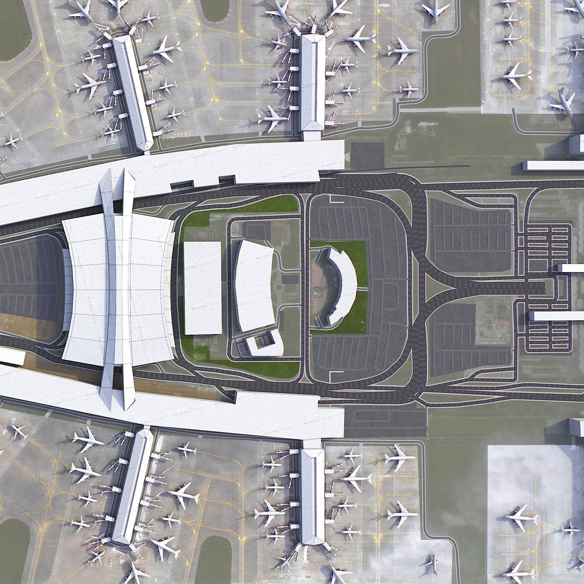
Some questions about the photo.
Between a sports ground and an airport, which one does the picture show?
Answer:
airport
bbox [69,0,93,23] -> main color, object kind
white airplane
